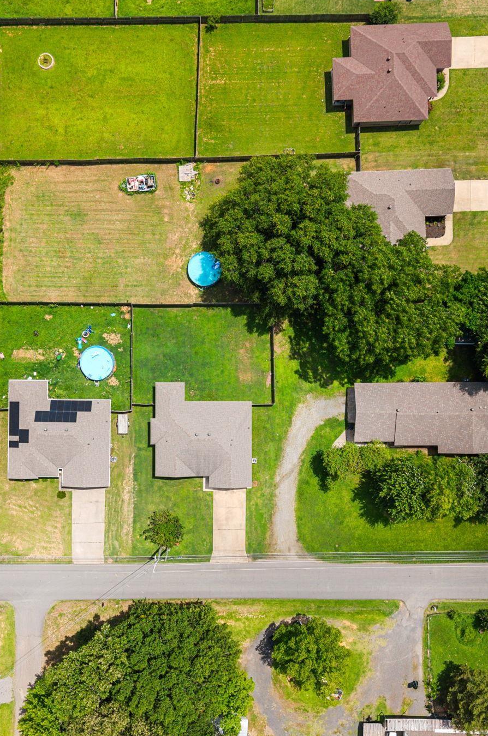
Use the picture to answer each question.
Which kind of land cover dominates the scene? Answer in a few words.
grass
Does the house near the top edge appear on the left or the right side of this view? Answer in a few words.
right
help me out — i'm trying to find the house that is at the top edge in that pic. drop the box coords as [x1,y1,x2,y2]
[333,22,454,126]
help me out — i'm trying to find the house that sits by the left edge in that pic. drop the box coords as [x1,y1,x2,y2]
[9,379,111,487]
